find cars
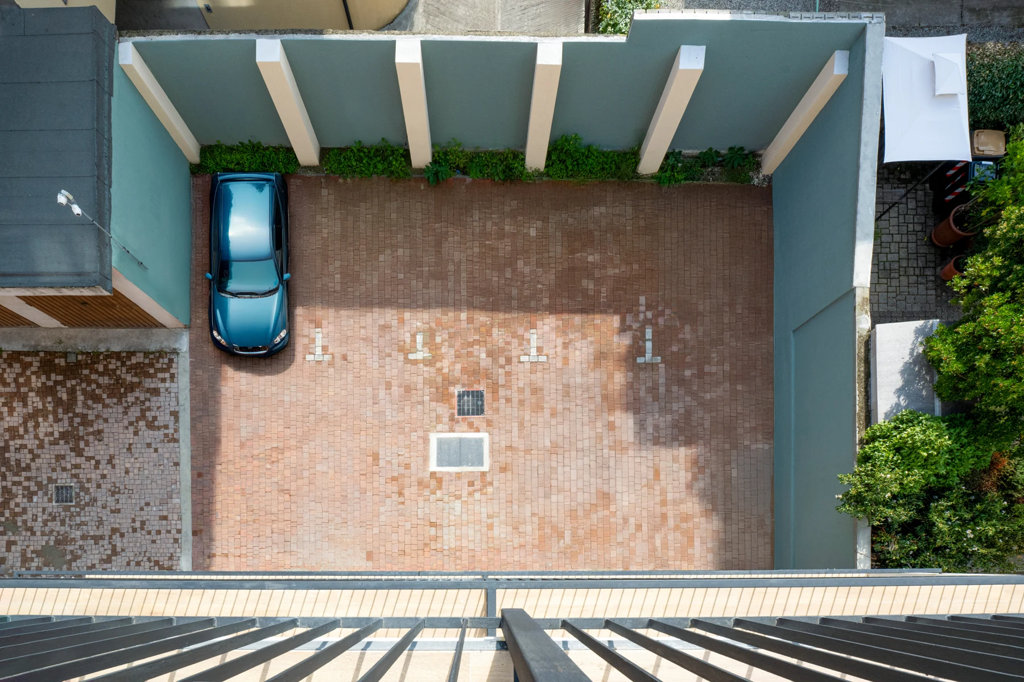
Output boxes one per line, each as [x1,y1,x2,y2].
[202,172,291,363]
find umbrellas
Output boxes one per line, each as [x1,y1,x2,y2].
[873,34,971,233]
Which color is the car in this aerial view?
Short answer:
blue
